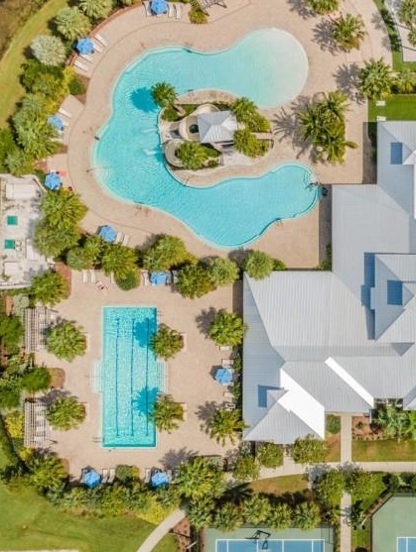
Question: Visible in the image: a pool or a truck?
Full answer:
Of the two, only a pool appears.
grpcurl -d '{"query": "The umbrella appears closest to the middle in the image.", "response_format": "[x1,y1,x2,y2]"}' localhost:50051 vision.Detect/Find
[151,270,168,287]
